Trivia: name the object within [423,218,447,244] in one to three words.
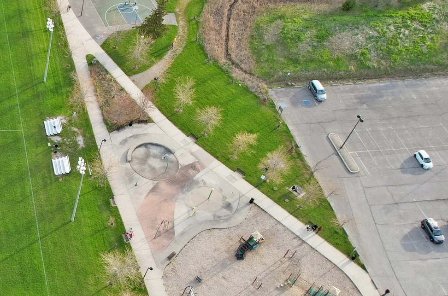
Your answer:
car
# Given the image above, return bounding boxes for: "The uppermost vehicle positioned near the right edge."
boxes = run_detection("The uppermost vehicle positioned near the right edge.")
[414,151,436,170]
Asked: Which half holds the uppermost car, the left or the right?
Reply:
right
